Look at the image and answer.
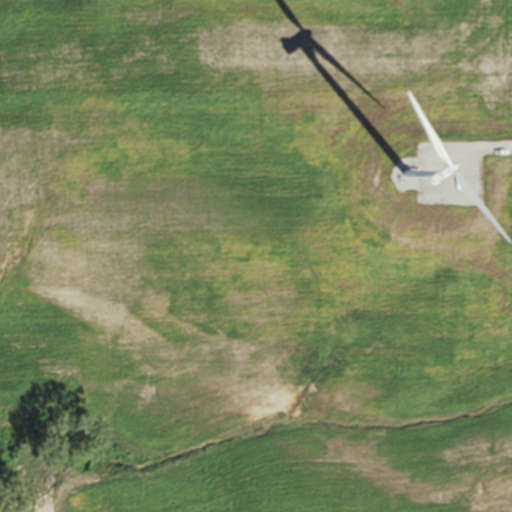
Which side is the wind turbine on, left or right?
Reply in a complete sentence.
You can find the wind turbine on the right side of the picture.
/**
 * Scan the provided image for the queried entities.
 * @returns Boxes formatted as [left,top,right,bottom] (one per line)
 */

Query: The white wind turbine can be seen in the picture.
[394,90,512,240]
